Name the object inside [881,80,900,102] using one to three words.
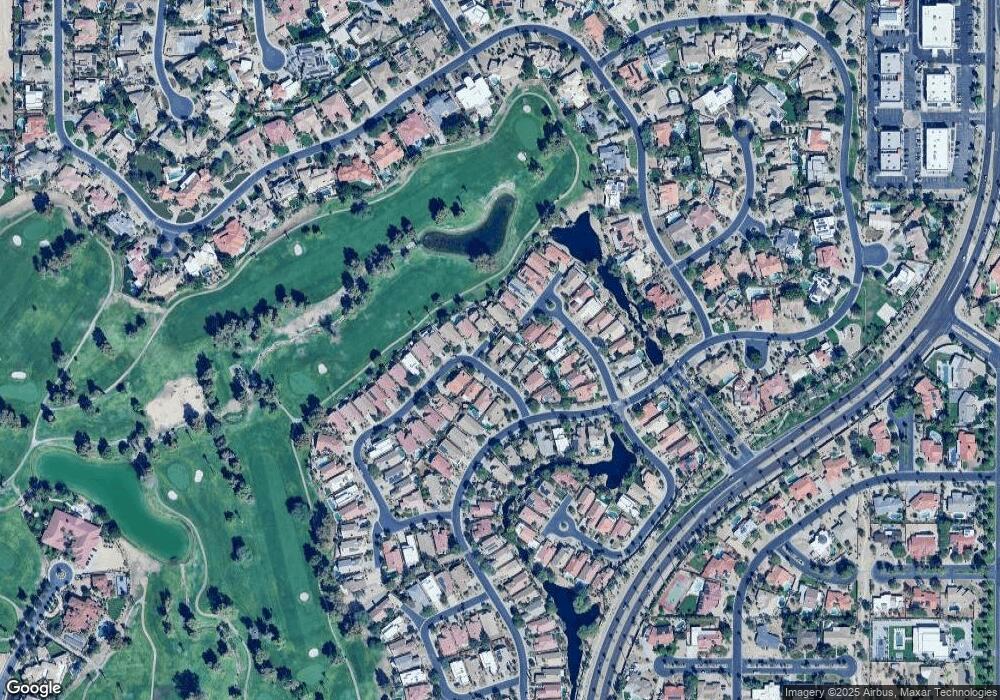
building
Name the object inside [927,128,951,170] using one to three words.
building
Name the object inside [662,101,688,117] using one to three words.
house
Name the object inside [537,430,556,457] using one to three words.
house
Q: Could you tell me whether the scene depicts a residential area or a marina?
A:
residential area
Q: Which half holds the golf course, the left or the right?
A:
left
